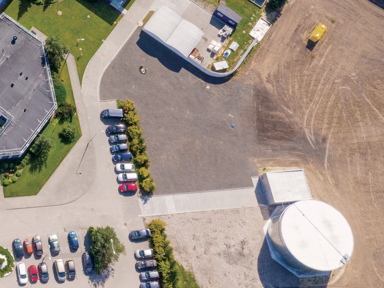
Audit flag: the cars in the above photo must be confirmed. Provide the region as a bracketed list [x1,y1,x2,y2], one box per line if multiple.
[129,229,152,240]
[65,261,75,280]
[139,281,161,288]
[115,163,135,173]
[13,239,23,258]
[24,239,33,255]
[119,183,138,192]
[29,265,38,282]
[109,135,128,144]
[69,232,79,249]
[38,263,49,282]
[32,235,43,256]
[112,153,133,162]
[16,263,27,285]
[106,125,127,134]
[110,144,129,153]
[139,271,160,281]
[54,259,66,281]
[135,259,157,270]
[135,249,155,258]
[118,174,138,183]
[49,235,61,254]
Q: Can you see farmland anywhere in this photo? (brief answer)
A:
Yes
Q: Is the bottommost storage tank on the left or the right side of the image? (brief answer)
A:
right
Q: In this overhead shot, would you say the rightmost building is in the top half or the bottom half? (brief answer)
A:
bottom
